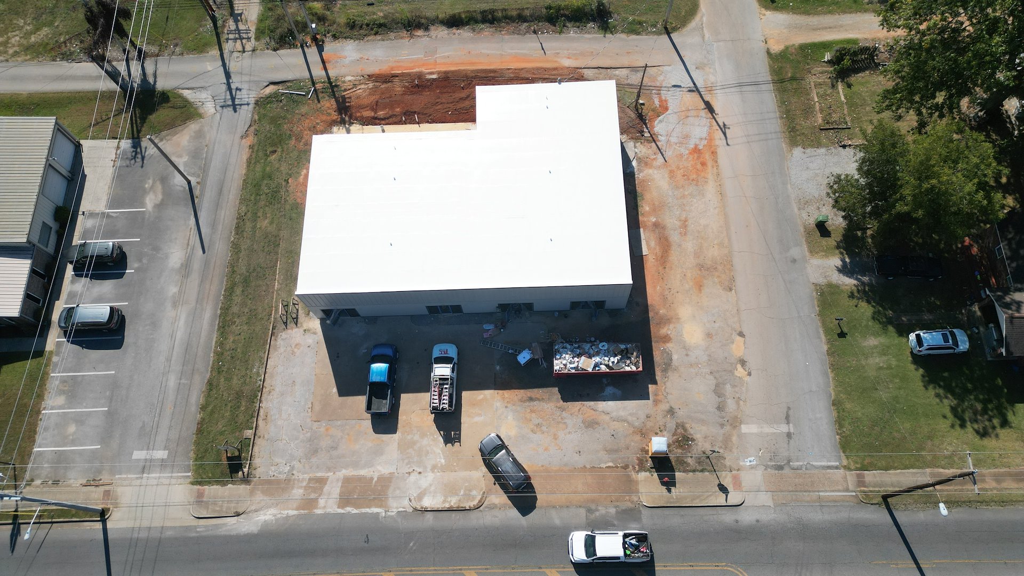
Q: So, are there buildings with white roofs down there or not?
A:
Yes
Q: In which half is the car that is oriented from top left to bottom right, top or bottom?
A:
bottom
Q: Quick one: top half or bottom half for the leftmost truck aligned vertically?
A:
bottom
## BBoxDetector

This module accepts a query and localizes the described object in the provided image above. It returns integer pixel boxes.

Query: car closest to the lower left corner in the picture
[61,304,127,335]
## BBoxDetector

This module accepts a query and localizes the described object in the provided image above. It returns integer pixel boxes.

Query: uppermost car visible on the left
[64,241,127,271]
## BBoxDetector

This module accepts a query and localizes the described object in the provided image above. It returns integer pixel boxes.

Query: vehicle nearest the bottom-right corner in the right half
[902,327,969,358]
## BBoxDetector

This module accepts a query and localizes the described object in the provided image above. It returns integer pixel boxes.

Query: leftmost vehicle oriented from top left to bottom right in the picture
[477,431,535,499]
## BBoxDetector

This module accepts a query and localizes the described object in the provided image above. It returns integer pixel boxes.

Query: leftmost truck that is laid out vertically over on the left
[365,344,398,417]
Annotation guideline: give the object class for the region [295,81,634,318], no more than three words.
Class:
building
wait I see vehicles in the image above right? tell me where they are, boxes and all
[365,344,398,417]
[902,327,969,358]
[64,241,127,271]
[429,344,459,415]
[567,528,652,566]
[477,431,535,499]
[61,304,127,335]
